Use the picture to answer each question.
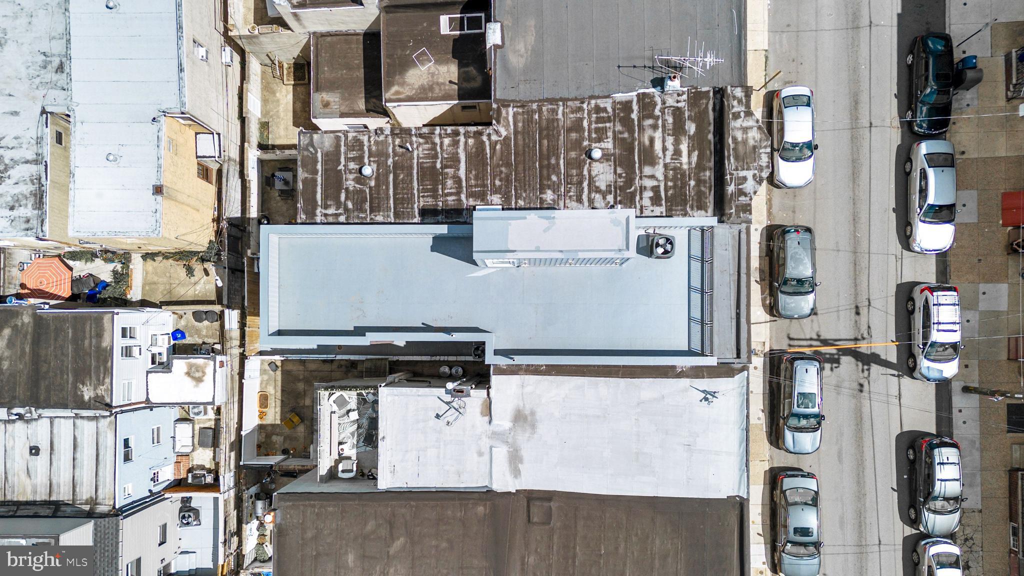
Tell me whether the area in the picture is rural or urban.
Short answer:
urban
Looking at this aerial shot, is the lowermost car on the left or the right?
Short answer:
right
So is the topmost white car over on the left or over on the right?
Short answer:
right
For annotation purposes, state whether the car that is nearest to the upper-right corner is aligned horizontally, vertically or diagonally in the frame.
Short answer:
vertically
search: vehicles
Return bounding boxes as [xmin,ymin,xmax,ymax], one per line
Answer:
[908,278,966,382]
[772,465,826,576]
[770,83,820,189]
[771,220,821,319]
[910,427,968,532]
[913,530,964,576]
[904,137,961,252]
[775,346,828,454]
[903,29,958,136]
